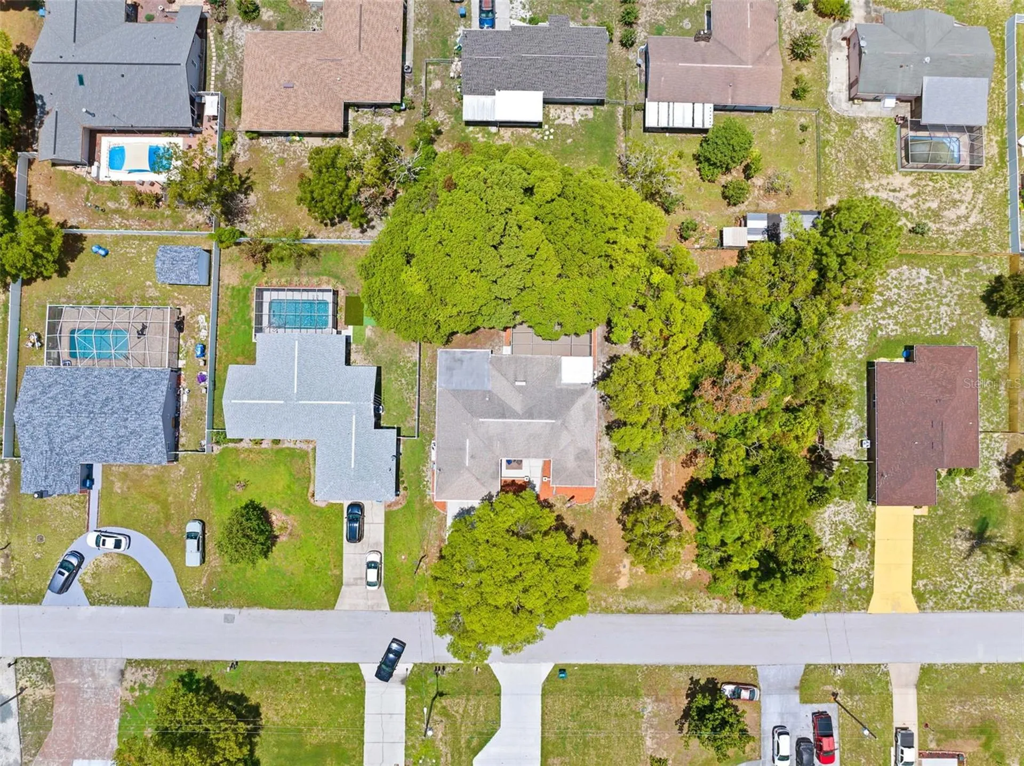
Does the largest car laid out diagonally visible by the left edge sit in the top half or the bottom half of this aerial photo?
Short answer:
bottom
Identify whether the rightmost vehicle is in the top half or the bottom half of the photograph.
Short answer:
bottom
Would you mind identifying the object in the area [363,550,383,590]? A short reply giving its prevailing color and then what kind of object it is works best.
white car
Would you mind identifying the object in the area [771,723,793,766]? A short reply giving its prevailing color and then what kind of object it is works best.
white car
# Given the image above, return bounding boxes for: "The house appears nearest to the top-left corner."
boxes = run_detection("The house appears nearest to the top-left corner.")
[26,0,209,167]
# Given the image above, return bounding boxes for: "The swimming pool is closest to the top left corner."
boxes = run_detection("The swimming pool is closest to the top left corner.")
[100,137,182,180]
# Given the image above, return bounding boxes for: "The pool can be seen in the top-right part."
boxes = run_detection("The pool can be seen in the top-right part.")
[901,123,981,169]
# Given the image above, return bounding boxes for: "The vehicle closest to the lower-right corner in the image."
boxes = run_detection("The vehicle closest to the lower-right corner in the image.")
[892,725,919,766]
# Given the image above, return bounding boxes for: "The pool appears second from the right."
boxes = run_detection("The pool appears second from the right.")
[256,292,337,335]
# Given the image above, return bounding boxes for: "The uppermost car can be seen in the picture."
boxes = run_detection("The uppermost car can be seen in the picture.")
[476,0,496,28]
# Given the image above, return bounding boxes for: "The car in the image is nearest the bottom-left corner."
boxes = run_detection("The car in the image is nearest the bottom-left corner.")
[46,550,85,595]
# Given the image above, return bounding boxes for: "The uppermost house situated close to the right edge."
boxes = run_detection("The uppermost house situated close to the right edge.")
[845,6,998,131]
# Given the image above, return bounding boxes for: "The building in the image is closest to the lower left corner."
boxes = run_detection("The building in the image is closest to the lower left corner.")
[11,366,179,496]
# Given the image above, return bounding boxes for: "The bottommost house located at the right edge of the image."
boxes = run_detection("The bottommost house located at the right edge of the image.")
[869,345,980,506]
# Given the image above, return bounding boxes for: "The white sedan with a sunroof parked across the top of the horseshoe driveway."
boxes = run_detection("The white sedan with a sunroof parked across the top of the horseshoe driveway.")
[88,530,132,551]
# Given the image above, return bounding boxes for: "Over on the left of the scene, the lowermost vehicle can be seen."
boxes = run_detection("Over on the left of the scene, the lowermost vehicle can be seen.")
[376,637,406,682]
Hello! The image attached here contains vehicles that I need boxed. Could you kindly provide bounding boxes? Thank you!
[720,681,760,702]
[476,0,496,28]
[771,723,793,766]
[343,501,365,543]
[892,725,919,766]
[812,710,838,764]
[376,637,406,682]
[46,550,85,595]
[794,736,816,766]
[363,550,383,590]
[88,530,132,551]
[183,519,207,566]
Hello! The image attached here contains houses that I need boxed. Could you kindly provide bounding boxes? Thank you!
[242,0,404,135]
[869,345,980,506]
[643,0,785,134]
[436,350,597,501]
[11,366,179,496]
[845,6,998,131]
[222,333,396,502]
[461,13,609,130]
[26,0,209,167]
